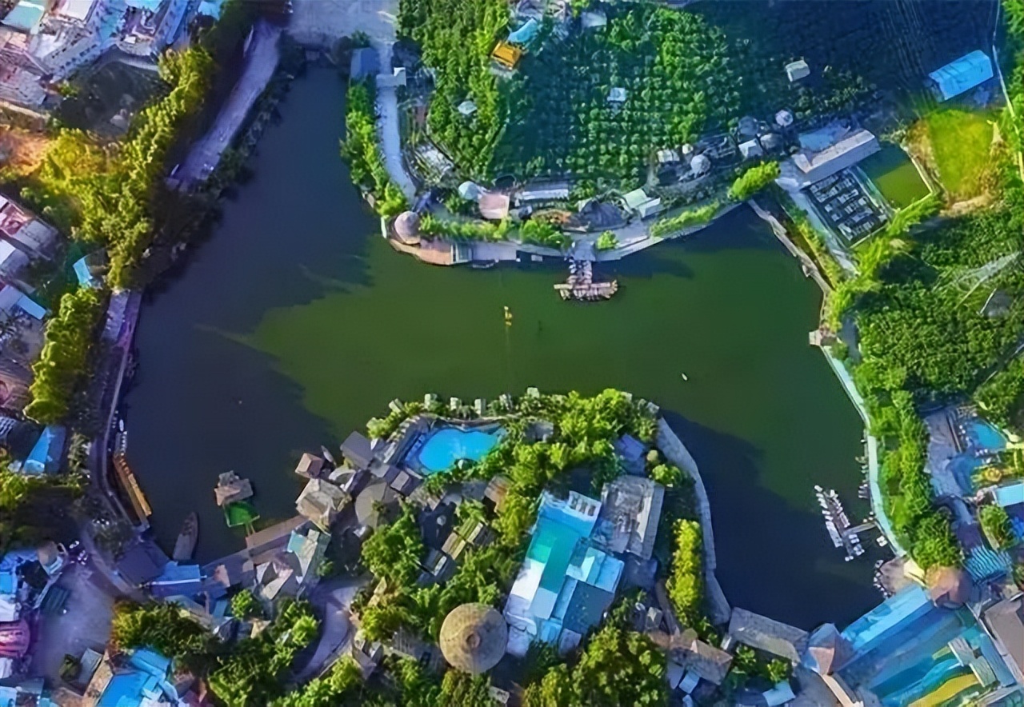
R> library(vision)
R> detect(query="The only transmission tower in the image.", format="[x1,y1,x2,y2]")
[948,250,1024,308]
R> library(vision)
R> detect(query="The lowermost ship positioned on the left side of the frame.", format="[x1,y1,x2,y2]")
[169,511,194,562]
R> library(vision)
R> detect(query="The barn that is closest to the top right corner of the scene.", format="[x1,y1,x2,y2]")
[922,50,993,110]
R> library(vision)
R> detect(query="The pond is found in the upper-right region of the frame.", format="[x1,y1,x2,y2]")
[859,143,936,209]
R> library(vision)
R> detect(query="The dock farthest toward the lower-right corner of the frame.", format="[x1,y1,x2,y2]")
[825,490,877,565]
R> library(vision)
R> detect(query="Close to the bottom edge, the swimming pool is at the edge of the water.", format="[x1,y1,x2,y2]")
[846,603,1003,707]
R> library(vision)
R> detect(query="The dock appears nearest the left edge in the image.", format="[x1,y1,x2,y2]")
[554,261,610,289]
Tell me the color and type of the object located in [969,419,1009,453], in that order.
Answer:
blue swimming pool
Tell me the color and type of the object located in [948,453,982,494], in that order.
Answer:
blue swimming pool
